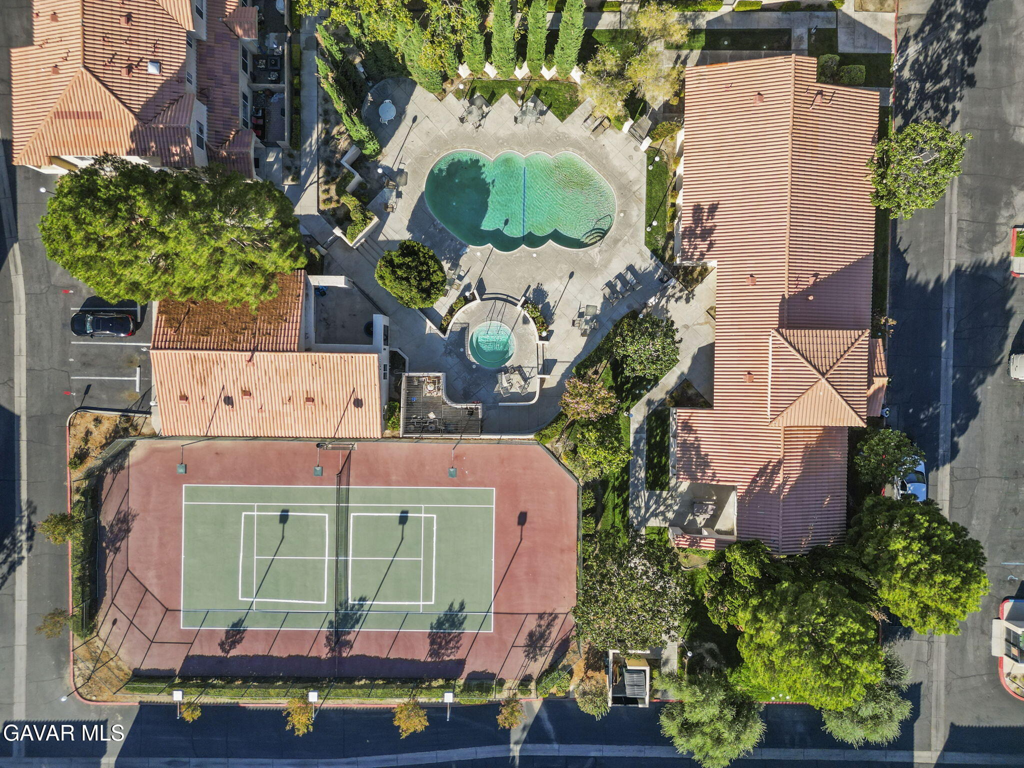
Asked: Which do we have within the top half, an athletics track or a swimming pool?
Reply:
swimming pool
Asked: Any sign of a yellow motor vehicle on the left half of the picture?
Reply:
No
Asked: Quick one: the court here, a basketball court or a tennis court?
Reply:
tennis court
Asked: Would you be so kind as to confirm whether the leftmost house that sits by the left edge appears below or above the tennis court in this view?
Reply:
above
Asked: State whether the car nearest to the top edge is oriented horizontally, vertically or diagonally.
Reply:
horizontally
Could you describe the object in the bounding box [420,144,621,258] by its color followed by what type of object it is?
green swimming pool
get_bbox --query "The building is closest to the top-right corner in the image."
[669,55,887,555]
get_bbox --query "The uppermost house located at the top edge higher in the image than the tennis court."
[9,0,267,186]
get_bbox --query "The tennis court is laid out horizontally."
[102,442,576,679]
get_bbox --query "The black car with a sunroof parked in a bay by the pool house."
[73,309,139,340]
